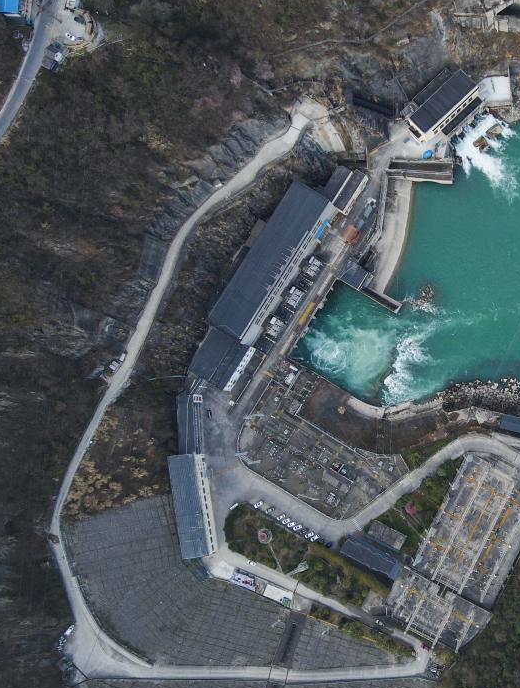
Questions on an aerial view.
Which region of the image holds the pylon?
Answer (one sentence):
The pylon sits in the bottom section of the image.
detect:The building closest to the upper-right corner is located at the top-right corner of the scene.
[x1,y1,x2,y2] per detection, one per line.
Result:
[402,70,481,139]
